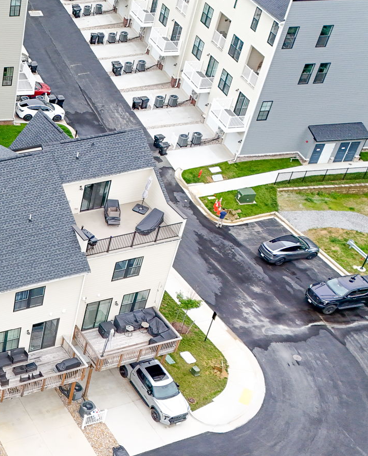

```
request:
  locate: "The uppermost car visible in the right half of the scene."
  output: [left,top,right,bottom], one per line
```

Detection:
[261,232,325,264]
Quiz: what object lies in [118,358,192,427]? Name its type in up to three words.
truck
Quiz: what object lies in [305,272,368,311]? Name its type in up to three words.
truck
